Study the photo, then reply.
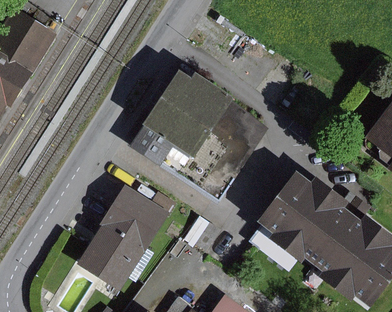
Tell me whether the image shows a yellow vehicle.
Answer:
Yes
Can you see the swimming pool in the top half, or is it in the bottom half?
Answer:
bottom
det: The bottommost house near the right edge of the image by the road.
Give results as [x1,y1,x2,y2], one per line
[258,172,392,312]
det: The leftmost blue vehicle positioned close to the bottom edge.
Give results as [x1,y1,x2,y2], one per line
[181,288,196,304]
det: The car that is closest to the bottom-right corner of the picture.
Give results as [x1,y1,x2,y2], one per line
[333,172,357,185]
